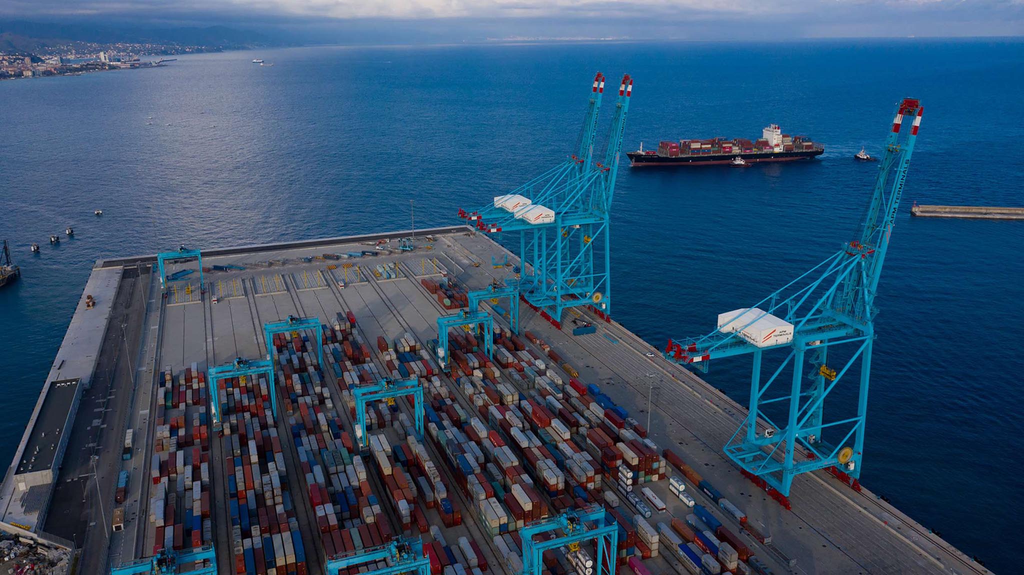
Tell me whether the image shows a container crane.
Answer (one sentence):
Yes, this view includes a container crane.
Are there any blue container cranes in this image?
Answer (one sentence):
Yes, the photo shows a blue container crane.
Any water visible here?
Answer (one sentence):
Yes, there is water in the image.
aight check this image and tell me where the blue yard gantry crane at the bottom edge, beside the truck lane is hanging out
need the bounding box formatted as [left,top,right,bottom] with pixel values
[109,543,215,575]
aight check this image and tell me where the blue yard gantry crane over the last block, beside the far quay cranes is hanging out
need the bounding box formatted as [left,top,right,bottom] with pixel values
[468,282,523,350]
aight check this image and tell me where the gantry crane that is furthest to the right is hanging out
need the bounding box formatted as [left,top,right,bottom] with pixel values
[657,97,925,509]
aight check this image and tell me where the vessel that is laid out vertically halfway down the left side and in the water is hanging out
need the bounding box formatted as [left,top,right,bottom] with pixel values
[0,238,22,289]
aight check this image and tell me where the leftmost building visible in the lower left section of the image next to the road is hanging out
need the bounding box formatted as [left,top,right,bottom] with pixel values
[13,376,83,490]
